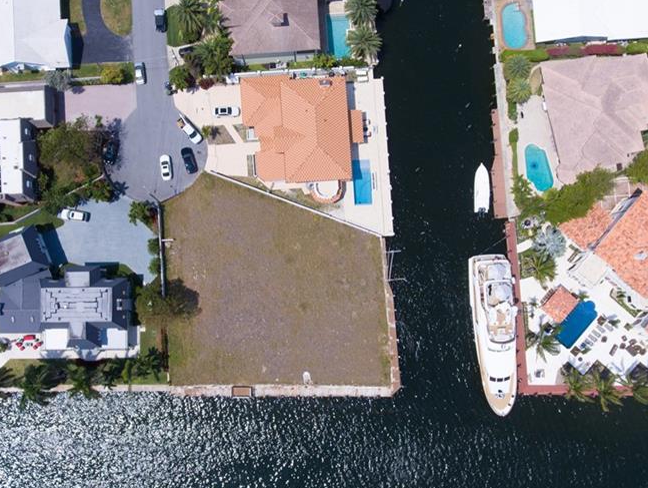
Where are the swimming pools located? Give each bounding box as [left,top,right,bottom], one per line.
[524,143,554,189]
[351,159,373,206]
[555,299,600,350]
[326,13,352,60]
[500,1,528,48]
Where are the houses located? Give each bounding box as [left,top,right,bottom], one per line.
[538,53,648,183]
[0,225,143,352]
[224,0,321,58]
[0,85,53,199]
[240,76,364,183]
[531,0,648,46]
[557,189,648,332]
[0,0,75,71]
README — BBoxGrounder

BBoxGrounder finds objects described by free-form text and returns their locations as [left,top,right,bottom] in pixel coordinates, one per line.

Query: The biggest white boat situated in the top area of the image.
[474,163,489,216]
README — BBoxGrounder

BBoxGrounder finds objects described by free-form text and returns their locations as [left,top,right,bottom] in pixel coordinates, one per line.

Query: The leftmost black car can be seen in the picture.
[104,135,119,162]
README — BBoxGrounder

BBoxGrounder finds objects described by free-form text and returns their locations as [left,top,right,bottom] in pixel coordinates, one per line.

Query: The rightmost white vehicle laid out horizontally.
[215,105,240,117]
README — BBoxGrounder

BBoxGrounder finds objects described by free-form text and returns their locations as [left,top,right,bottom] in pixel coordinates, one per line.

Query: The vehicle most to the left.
[61,208,89,220]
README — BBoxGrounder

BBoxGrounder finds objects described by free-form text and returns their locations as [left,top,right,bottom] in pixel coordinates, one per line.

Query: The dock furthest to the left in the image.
[371,78,393,235]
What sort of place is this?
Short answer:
residential area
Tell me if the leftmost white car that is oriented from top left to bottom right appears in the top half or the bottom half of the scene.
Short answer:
top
